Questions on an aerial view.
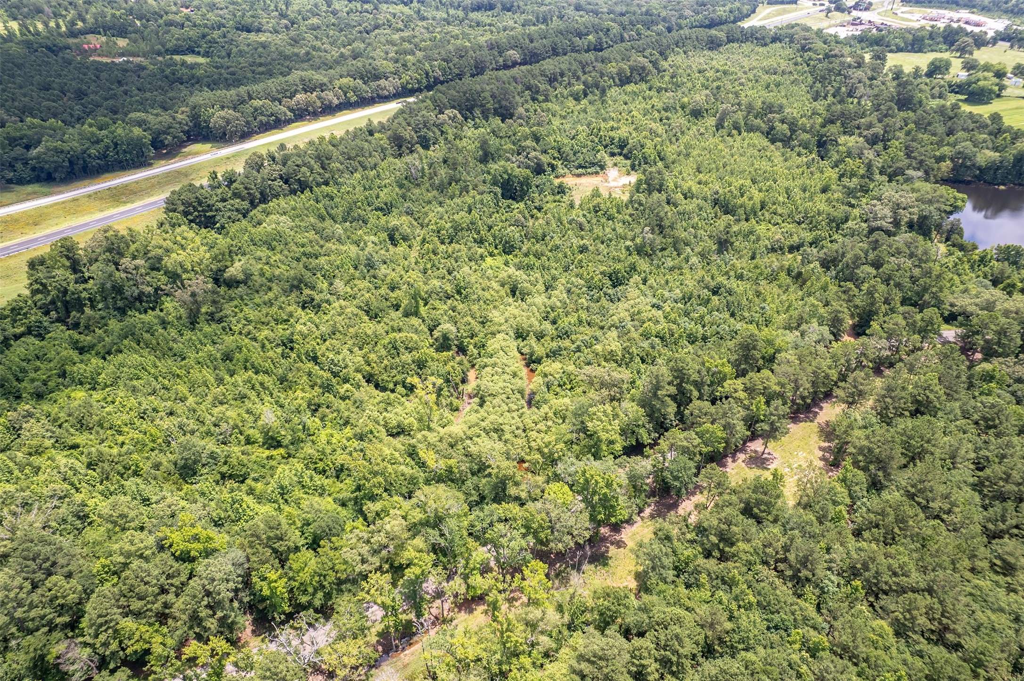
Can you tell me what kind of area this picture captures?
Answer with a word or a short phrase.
forest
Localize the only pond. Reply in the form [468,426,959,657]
[920,185,1024,266]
